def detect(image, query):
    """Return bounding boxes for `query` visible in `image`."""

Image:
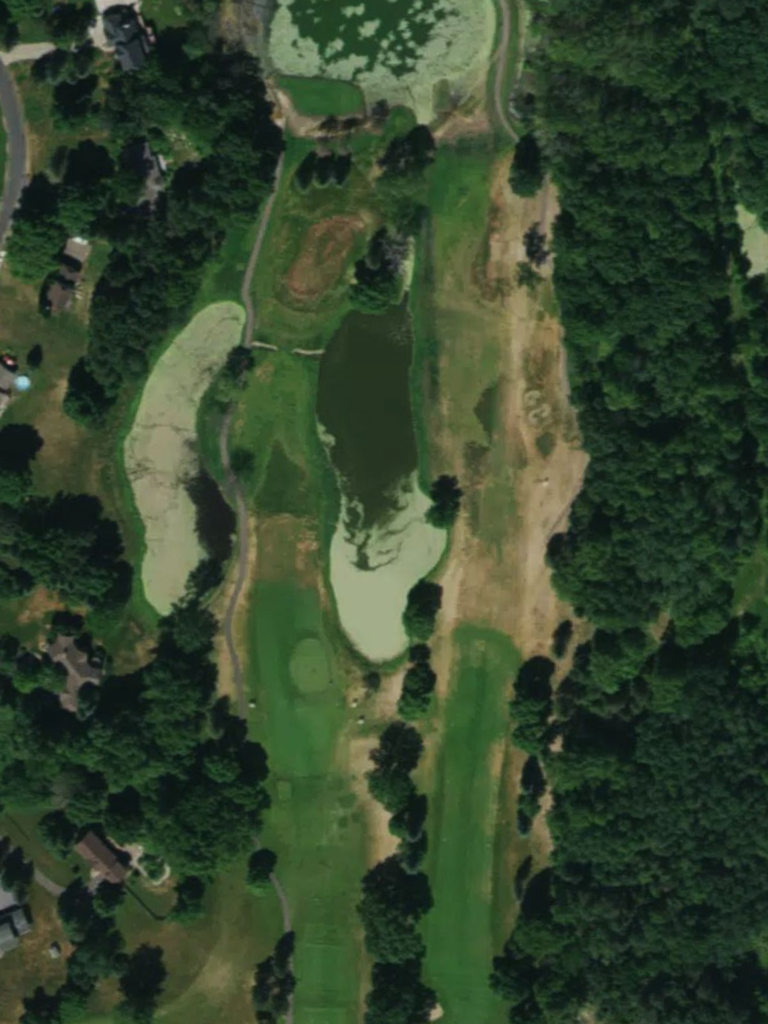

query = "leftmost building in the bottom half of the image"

[0,911,29,951]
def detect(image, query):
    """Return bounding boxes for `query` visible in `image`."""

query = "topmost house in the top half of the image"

[98,3,151,71]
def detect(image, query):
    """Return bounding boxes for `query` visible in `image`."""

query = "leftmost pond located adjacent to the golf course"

[123,300,246,617]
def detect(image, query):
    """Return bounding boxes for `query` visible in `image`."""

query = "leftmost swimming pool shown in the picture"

[15,374,31,391]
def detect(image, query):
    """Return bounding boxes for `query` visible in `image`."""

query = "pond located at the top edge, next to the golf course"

[263,0,500,126]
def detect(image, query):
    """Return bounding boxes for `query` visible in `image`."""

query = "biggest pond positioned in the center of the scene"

[315,237,449,663]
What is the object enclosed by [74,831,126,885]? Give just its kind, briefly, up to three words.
house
